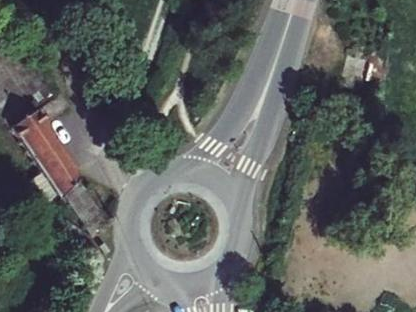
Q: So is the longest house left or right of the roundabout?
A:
to its left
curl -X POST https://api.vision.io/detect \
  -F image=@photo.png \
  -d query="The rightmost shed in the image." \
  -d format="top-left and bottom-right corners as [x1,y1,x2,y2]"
[366,56,386,80]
